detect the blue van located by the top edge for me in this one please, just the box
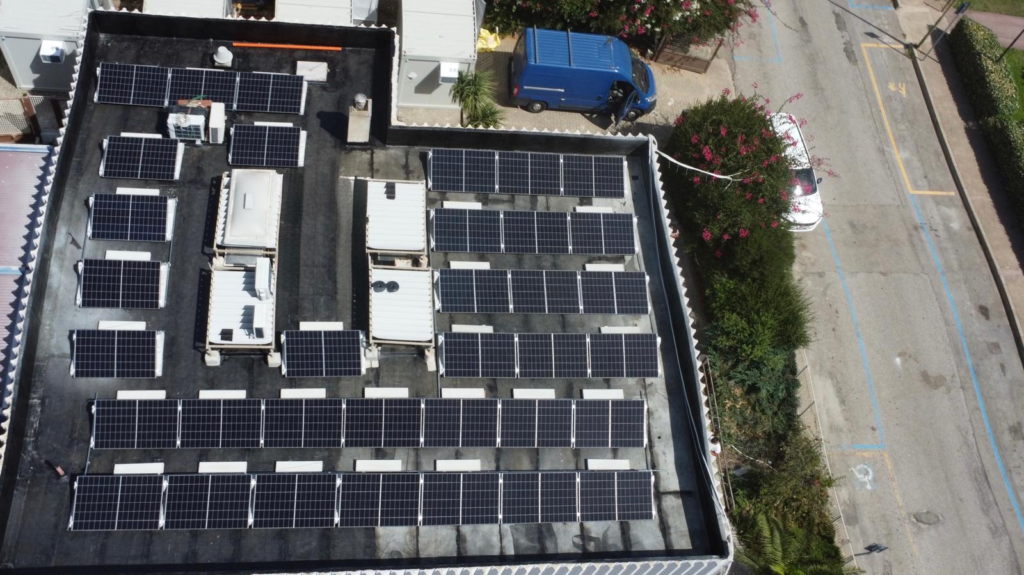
[507,16,659,130]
